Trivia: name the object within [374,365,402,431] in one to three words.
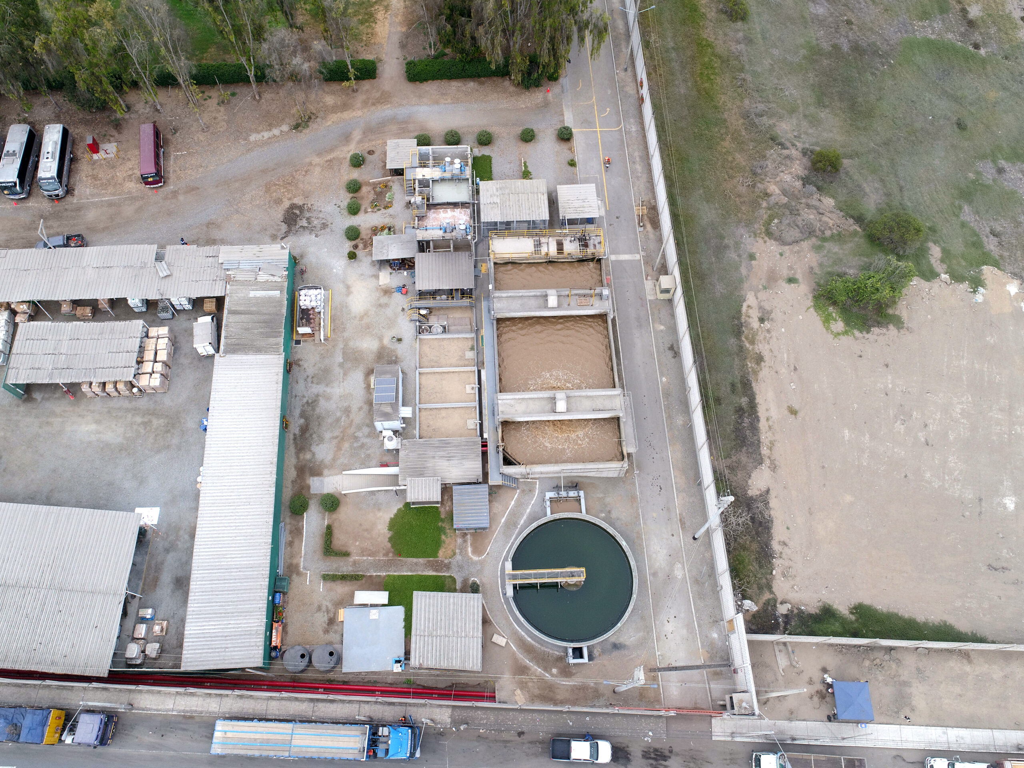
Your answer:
building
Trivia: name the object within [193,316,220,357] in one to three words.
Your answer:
truck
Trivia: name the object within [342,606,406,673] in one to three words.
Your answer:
building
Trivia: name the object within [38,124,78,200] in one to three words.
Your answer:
bus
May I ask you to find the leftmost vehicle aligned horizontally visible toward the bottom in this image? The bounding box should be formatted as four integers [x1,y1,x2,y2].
[0,705,129,751]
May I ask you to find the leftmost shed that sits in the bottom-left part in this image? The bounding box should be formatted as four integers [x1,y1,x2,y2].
[0,502,157,677]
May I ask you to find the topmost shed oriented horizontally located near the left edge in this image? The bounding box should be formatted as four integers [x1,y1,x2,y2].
[0,244,227,320]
